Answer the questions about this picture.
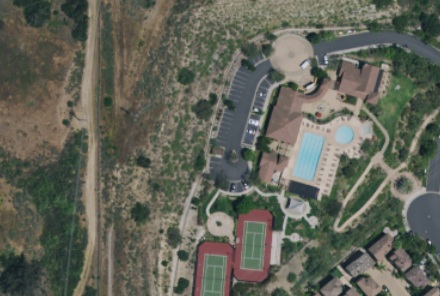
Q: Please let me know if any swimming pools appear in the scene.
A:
Yes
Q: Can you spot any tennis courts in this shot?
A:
Yes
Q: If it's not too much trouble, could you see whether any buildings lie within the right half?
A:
Yes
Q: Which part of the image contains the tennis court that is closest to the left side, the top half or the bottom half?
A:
bottom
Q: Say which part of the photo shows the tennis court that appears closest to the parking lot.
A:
bottom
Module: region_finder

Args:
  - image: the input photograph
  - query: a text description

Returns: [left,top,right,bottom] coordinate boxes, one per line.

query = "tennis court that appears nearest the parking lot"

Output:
[234,210,275,282]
